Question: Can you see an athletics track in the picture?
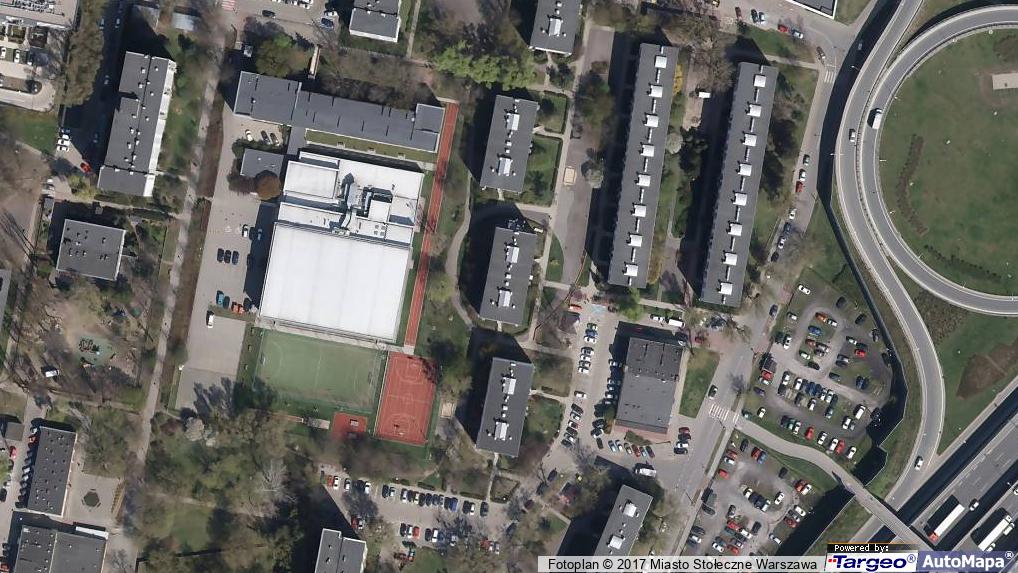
Yes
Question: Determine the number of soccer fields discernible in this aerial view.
one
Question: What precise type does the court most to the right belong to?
basketball court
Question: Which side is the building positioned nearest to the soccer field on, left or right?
left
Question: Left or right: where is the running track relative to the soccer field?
right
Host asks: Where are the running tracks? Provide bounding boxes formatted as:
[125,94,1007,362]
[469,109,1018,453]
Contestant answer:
[402,103,458,355]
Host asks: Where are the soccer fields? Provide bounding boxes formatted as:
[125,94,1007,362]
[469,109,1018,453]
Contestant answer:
[253,329,388,415]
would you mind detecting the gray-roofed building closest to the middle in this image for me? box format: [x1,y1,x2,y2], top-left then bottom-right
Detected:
[480,227,537,325]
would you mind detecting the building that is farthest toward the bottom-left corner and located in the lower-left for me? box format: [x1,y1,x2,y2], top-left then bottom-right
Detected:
[13,523,110,573]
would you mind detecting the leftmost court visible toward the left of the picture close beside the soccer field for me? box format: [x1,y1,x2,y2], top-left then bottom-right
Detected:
[331,414,368,442]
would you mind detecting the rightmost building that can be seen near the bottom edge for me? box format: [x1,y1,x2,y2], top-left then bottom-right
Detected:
[586,481,653,573]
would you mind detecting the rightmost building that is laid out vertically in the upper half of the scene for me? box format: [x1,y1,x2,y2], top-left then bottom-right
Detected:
[697,62,778,306]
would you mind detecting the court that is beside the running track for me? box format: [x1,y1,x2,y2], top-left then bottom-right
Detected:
[374,352,438,446]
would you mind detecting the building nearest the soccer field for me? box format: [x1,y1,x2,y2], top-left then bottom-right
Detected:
[258,223,412,346]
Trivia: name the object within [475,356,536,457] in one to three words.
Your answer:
building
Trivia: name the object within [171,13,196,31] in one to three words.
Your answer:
shed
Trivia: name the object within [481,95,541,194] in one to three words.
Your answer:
building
